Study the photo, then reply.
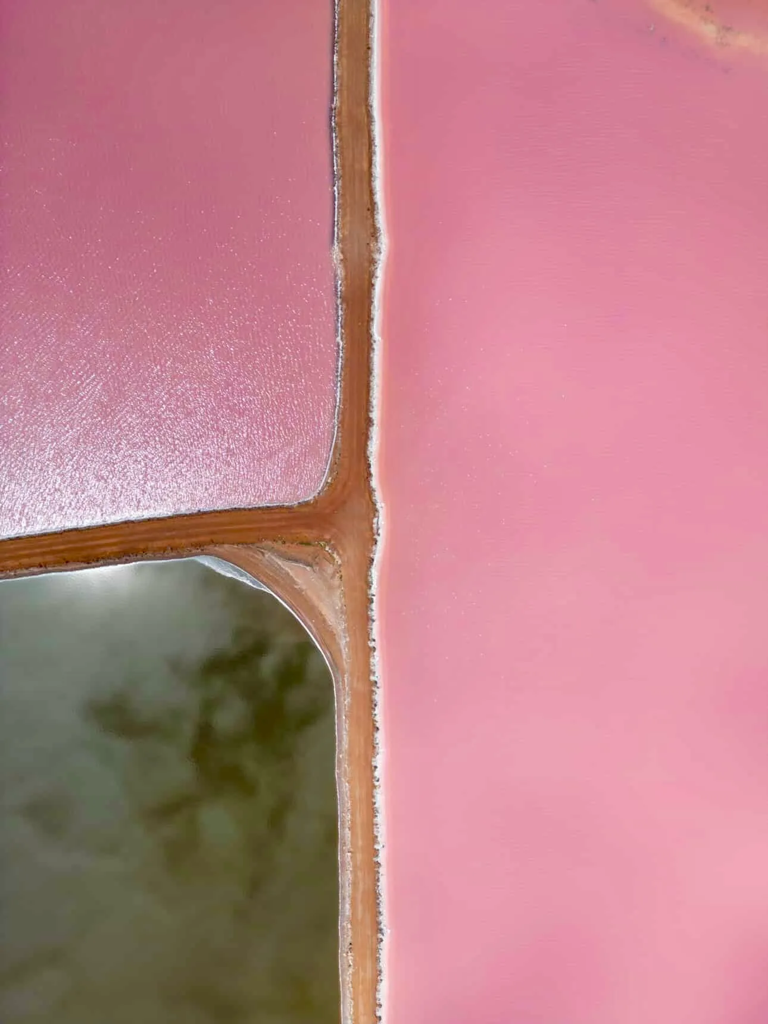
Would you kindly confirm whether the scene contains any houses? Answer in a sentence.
No, this view has no house in it.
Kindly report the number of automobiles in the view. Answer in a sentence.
The photo contains no automobiles.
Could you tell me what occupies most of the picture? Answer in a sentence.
For the most part, this view shows water.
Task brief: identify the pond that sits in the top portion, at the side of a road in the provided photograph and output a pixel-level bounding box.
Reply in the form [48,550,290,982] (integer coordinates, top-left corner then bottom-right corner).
[0,0,340,538]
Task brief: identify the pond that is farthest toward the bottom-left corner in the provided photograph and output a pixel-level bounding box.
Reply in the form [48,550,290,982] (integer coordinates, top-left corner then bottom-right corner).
[0,557,342,1024]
